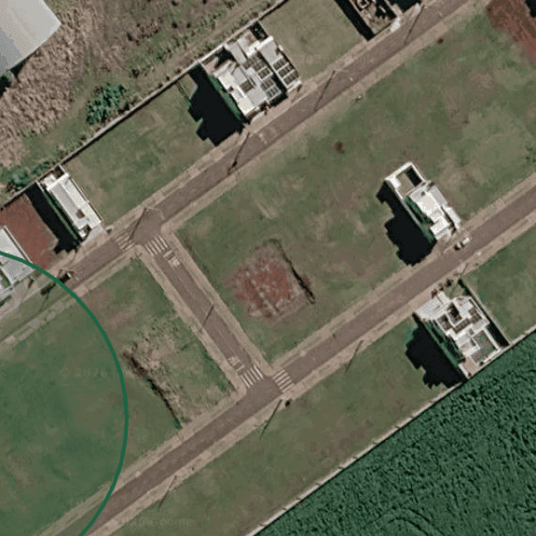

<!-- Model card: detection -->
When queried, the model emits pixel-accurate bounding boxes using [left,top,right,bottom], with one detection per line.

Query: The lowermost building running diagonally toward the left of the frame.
[37,174,103,241]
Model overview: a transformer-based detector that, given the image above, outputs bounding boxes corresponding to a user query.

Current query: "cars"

[61,271,75,283]
[458,237,472,249]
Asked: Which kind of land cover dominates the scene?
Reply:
grass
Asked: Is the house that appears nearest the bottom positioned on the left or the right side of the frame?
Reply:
right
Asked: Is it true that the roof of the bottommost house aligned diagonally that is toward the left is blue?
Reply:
No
